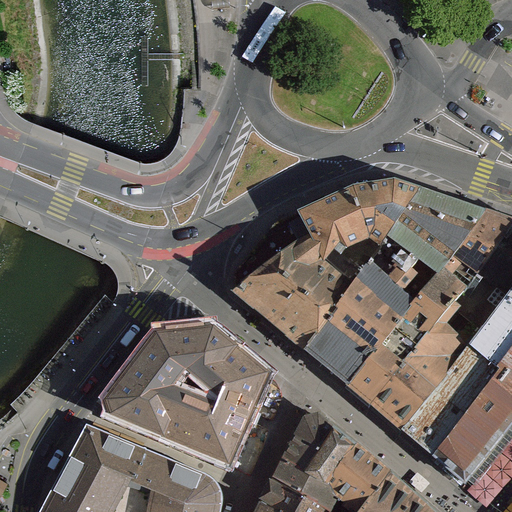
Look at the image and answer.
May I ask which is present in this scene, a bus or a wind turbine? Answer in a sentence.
Of the two, only a bus appears.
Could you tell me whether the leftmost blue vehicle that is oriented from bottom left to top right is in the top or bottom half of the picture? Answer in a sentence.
The leftmost blue vehicle that is oriented from bottom left to top right is in the bottom half of the image.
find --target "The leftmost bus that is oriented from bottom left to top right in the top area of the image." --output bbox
[242,3,287,62]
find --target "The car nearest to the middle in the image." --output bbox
[172,227,198,240]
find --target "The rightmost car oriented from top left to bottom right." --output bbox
[480,124,505,142]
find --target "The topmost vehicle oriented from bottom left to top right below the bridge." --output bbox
[119,324,140,348]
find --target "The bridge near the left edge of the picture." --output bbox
[0,116,150,264]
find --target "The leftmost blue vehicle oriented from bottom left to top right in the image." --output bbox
[45,448,65,472]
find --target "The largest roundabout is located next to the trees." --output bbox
[270,2,394,132]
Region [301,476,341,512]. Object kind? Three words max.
house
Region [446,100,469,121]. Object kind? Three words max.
car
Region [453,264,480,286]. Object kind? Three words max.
building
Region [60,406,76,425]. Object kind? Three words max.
car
